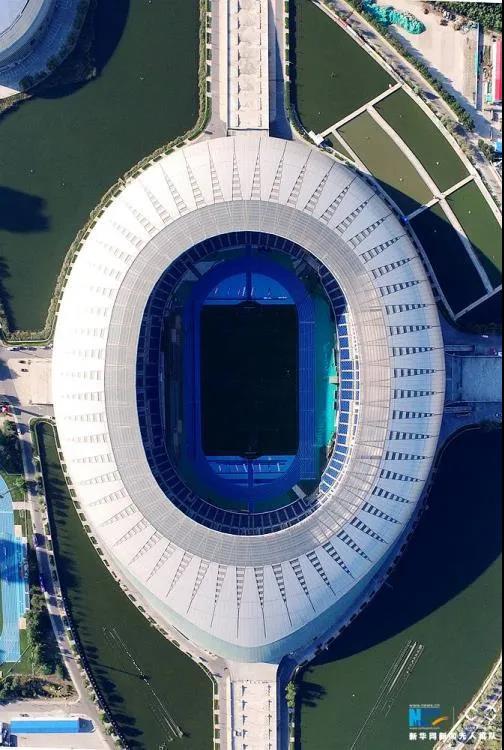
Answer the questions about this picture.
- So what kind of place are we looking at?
sports ground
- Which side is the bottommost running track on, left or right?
left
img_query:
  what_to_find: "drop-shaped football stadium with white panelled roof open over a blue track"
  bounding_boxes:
[52,136,445,661]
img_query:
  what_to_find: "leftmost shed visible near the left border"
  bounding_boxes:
[10,713,81,733]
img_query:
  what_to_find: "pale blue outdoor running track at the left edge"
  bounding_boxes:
[0,475,26,660]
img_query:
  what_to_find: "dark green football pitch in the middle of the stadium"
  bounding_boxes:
[201,300,297,461]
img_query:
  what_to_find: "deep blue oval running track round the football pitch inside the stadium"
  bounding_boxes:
[165,247,333,510]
